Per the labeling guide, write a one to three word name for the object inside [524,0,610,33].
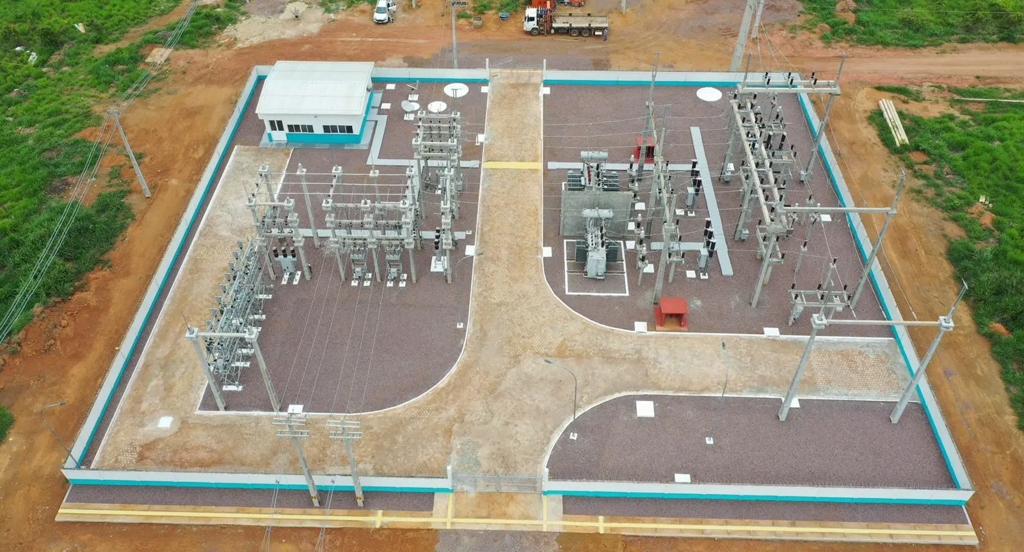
truck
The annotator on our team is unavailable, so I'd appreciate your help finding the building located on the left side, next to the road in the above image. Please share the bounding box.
[254,60,376,144]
